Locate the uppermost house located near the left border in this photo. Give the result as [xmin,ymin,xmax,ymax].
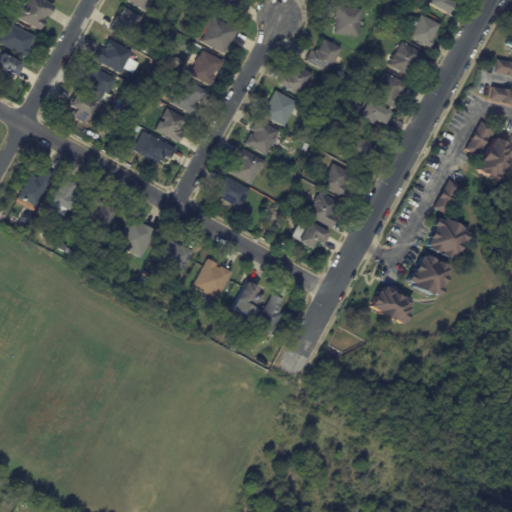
[18,0,54,31]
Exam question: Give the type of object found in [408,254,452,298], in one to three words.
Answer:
building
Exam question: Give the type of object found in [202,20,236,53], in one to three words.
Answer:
house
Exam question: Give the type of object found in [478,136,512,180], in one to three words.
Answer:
building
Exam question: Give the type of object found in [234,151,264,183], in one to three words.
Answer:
house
